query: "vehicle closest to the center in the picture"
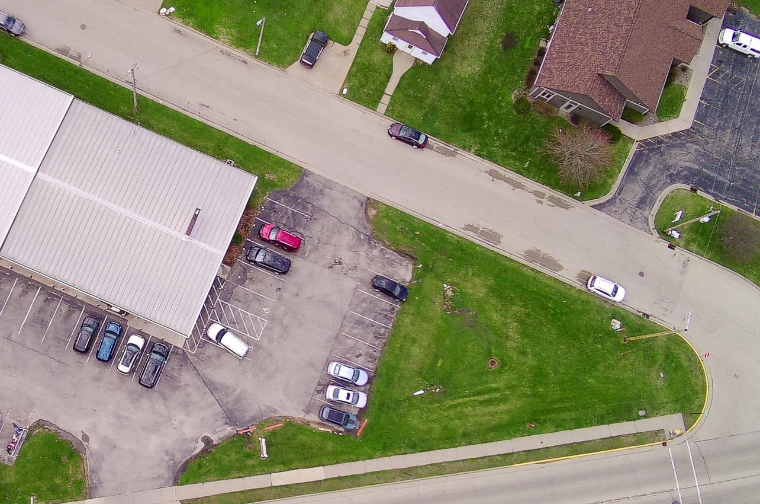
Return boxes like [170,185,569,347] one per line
[368,272,410,304]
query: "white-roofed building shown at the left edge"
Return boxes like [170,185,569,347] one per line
[0,64,258,340]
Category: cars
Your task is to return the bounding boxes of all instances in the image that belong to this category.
[324,385,368,410]
[139,342,169,391]
[316,406,358,433]
[0,9,27,37]
[368,272,410,304]
[298,28,326,71]
[584,275,626,302]
[386,122,430,152]
[244,245,294,277]
[73,314,101,355]
[117,333,144,377]
[206,324,252,361]
[326,363,369,389]
[258,223,303,254]
[96,320,123,364]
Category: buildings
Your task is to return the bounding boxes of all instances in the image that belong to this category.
[382,0,468,64]
[528,0,728,123]
[0,64,258,340]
